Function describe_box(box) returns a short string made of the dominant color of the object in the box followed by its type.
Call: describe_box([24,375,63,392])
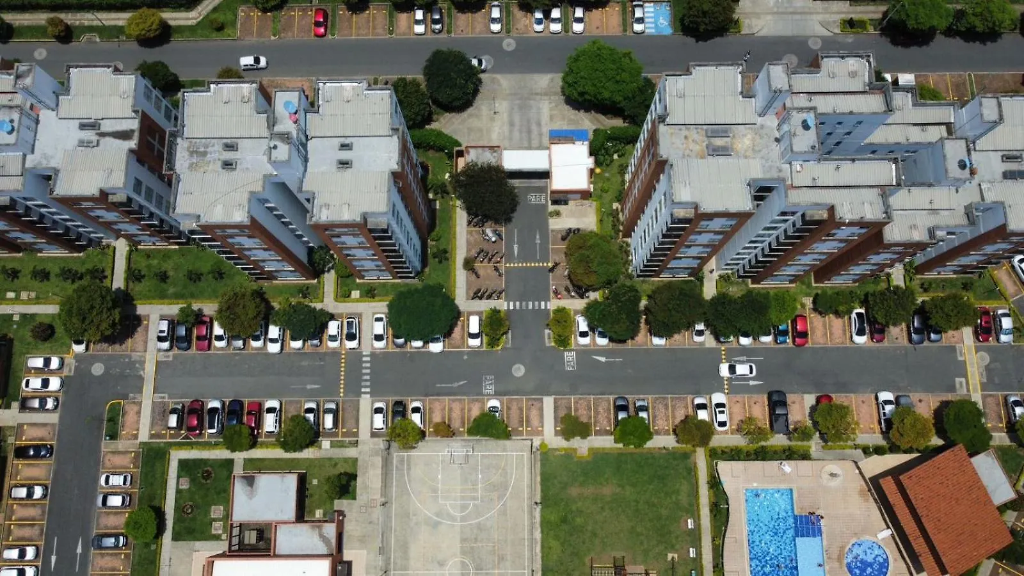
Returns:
white car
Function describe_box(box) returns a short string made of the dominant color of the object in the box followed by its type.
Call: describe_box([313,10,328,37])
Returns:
red car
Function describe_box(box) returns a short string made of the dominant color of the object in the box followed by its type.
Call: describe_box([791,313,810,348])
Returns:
red car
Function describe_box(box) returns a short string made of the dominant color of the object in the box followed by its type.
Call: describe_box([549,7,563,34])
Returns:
white car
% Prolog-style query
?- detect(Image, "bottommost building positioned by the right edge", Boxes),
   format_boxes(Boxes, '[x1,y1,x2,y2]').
[869,445,1013,576]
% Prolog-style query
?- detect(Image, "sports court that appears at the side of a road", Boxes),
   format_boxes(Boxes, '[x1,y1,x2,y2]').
[384,439,537,576]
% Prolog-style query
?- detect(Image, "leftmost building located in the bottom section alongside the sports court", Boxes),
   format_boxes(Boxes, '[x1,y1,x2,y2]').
[204,473,353,576]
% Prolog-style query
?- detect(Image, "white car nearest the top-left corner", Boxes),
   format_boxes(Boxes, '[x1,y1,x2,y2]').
[240,55,268,71]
